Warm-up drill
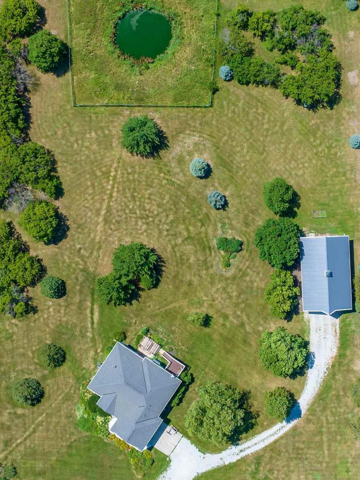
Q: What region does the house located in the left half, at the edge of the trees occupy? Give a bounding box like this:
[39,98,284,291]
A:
[86,342,182,453]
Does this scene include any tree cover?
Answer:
Yes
